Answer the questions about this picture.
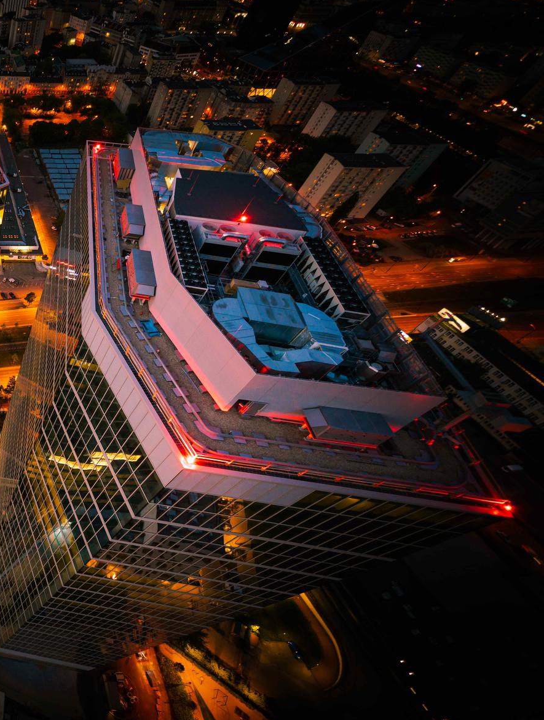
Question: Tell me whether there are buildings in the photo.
Yes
